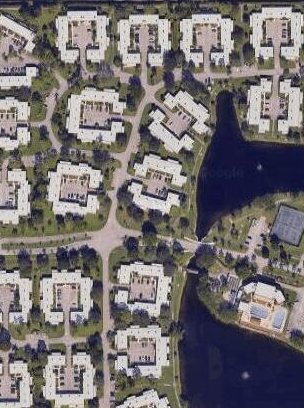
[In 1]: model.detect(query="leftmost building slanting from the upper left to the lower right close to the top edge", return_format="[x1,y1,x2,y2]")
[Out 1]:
[0,13,36,51]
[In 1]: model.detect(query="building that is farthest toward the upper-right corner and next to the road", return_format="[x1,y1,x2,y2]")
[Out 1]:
[250,7,304,62]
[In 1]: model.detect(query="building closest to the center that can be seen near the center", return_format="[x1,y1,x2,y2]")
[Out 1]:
[129,182,181,214]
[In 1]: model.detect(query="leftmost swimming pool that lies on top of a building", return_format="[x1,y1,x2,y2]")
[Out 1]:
[249,305,270,319]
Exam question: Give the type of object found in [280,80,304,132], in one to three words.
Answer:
building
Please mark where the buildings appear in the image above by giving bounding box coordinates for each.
[57,11,109,65]
[250,7,304,62]
[0,271,32,326]
[49,162,104,216]
[40,271,94,326]
[162,90,210,134]
[43,351,96,406]
[248,80,273,132]
[129,182,181,214]
[118,14,171,69]
[0,68,35,90]
[149,108,195,153]
[114,388,169,408]
[69,89,124,143]
[280,80,304,132]
[0,361,33,408]
[0,13,36,51]
[237,281,288,335]
[0,169,30,224]
[181,14,234,69]
[134,153,185,186]
[115,326,169,379]
[115,264,169,317]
